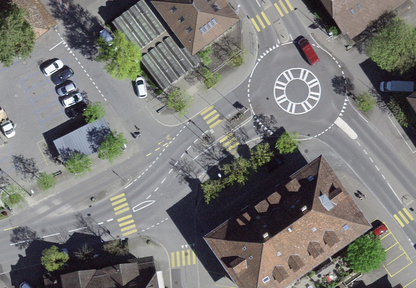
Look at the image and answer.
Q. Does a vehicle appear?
Yes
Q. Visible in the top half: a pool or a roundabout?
roundabout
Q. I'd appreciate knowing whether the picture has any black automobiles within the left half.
Yes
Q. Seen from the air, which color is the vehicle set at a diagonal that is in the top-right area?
red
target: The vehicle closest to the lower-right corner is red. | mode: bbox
[370,224,390,239]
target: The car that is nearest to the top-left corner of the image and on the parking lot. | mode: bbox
[42,60,64,77]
